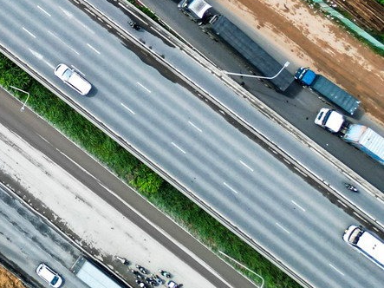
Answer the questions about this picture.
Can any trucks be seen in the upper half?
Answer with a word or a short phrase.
Yes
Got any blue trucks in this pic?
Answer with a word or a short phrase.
Yes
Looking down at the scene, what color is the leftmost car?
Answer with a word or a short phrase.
white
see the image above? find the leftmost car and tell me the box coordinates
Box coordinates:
[31,258,62,287]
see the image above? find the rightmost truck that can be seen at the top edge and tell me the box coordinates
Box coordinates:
[166,0,296,92]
